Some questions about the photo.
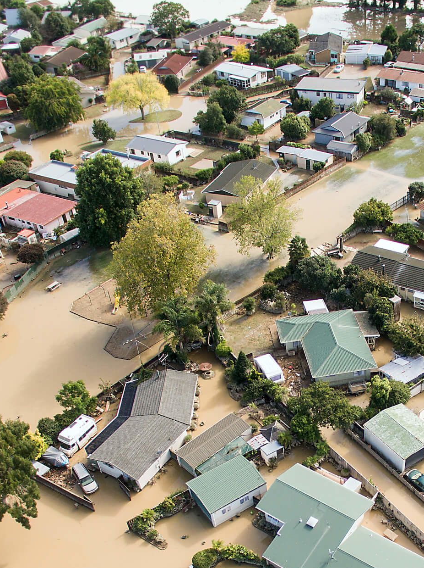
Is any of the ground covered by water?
Yes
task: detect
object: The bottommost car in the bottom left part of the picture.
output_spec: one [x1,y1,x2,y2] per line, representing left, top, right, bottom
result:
[70,461,100,495]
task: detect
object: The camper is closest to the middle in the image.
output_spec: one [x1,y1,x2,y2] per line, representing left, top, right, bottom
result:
[253,353,282,384]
